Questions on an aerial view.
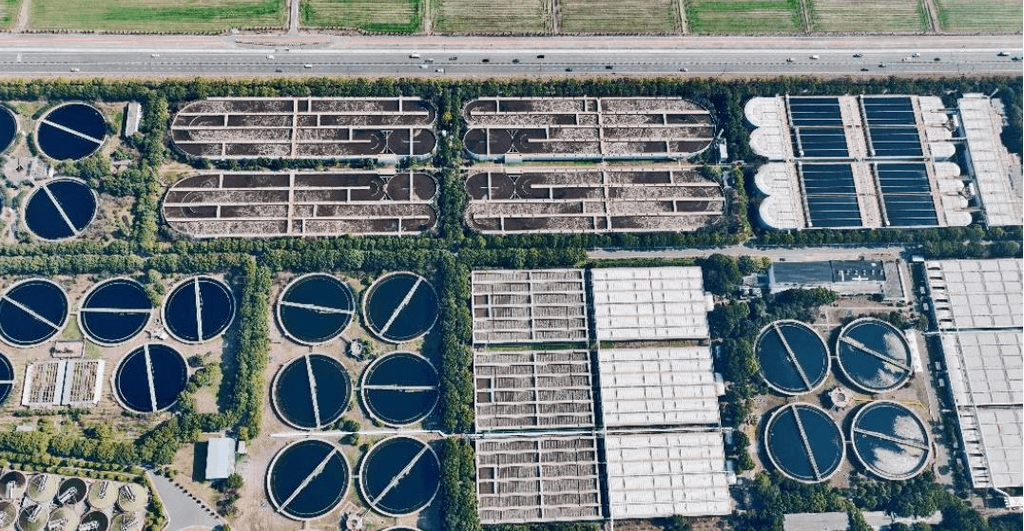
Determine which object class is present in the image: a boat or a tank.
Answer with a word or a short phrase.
tank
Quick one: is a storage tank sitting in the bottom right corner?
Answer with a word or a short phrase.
Yes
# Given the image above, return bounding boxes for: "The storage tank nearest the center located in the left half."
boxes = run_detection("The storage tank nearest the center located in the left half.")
[363,271,440,345]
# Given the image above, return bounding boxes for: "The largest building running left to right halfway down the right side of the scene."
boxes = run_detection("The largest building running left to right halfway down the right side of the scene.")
[767,261,886,296]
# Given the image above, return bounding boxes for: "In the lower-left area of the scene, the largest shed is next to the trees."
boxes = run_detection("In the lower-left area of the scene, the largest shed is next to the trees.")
[206,438,237,480]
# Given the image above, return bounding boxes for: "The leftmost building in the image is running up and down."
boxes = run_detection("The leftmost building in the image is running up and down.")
[125,102,141,139]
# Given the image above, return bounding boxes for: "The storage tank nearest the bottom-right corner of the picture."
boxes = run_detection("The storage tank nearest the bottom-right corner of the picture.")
[849,400,932,482]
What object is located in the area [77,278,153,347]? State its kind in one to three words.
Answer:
storage tank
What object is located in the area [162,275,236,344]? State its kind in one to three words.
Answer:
storage tank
